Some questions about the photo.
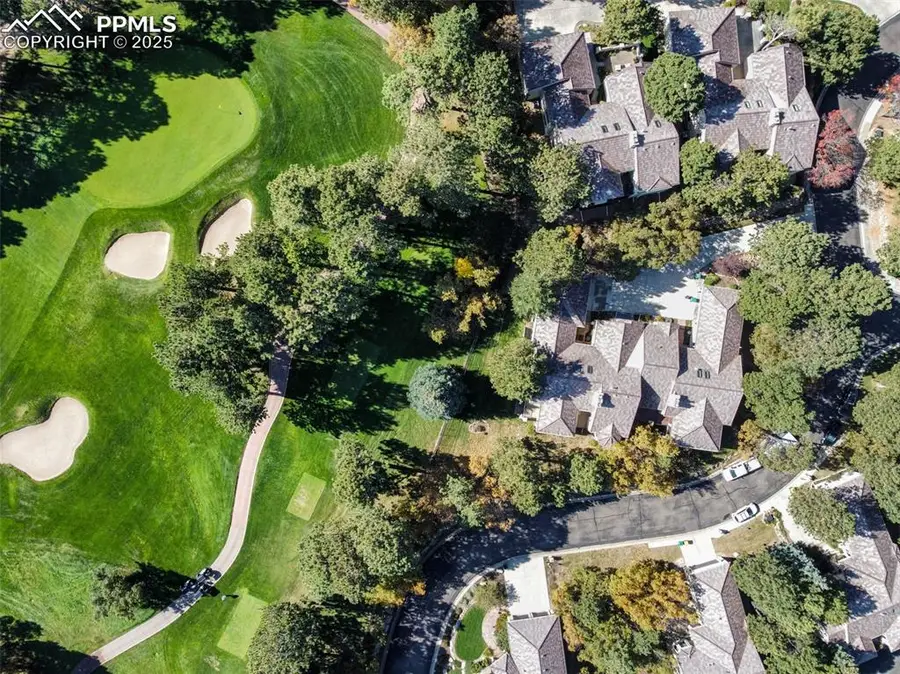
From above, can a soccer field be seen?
No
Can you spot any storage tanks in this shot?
No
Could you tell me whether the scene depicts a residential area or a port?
residential area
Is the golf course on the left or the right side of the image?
left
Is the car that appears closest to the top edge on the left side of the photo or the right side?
right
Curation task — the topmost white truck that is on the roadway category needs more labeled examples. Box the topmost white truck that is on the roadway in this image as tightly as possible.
[722,457,762,483]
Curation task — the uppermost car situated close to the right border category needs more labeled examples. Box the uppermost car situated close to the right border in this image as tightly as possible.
[835,382,859,413]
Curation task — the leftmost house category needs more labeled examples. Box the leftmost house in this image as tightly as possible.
[483,611,569,674]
